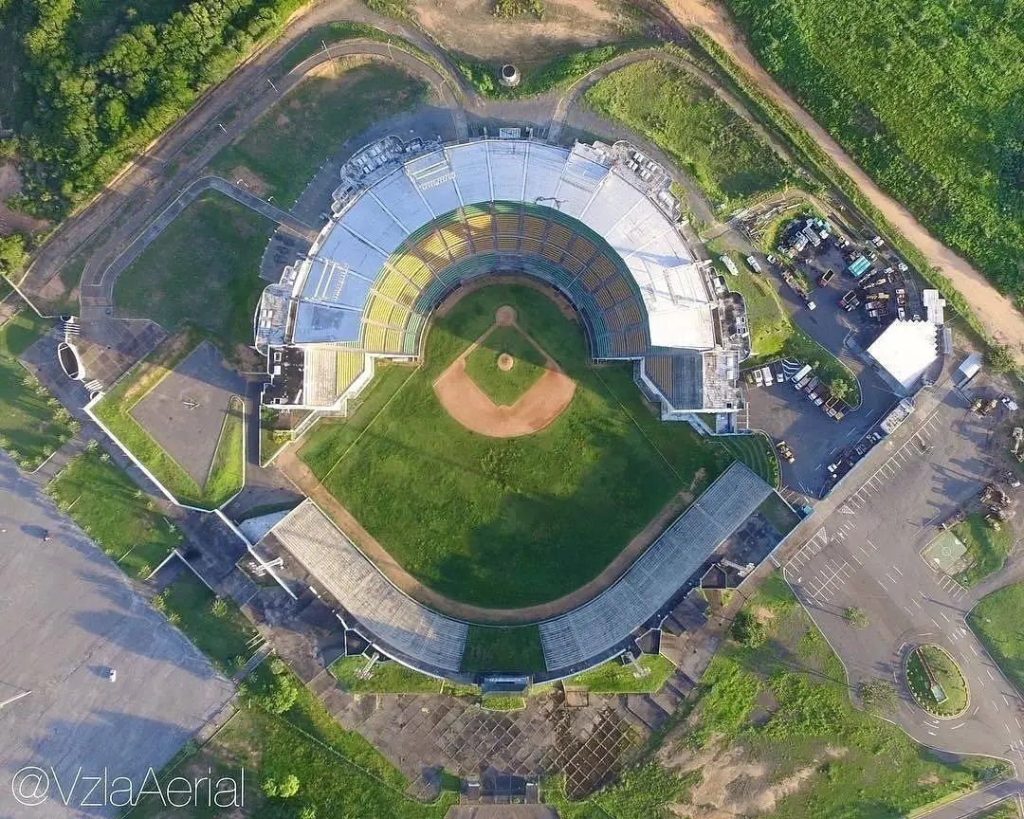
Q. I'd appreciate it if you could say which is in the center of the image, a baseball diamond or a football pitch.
baseball diamond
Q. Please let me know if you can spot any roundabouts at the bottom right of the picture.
Yes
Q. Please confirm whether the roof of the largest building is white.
Yes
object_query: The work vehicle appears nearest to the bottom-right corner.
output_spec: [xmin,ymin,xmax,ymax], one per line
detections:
[989,513,1002,532]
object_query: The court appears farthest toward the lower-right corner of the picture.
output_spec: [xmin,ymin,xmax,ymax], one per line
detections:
[924,527,975,575]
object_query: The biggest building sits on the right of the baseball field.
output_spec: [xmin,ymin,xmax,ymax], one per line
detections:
[843,319,937,399]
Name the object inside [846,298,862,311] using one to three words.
vehicle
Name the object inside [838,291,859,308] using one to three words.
vehicle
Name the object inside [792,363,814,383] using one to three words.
bus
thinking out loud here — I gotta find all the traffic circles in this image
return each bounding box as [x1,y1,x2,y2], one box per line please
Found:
[905,644,969,718]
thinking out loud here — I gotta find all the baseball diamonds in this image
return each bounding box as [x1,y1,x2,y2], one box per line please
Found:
[275,276,736,623]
